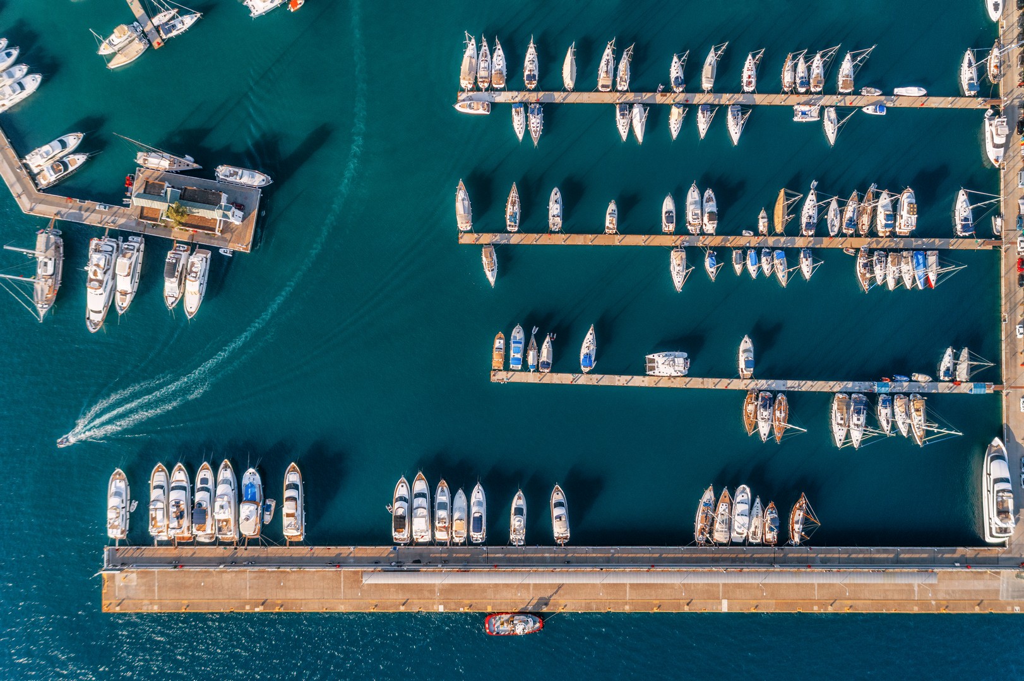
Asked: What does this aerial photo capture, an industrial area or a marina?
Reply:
marina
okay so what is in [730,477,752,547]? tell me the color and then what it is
white boat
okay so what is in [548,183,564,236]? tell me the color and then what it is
white boat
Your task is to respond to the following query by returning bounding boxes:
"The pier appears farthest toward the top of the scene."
[129,0,166,51]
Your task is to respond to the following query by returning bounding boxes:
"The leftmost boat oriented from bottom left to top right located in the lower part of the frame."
[57,433,73,445]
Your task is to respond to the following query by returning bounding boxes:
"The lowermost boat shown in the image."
[469,609,561,643]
